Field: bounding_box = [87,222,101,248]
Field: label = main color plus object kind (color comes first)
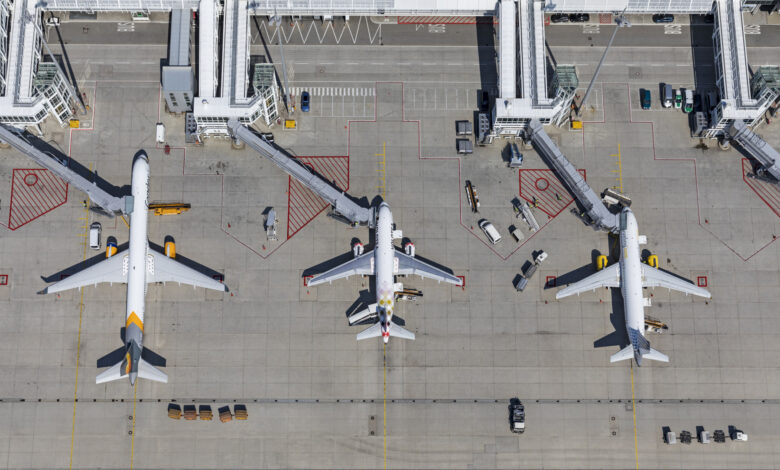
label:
white vehicle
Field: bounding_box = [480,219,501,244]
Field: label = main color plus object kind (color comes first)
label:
white vehicle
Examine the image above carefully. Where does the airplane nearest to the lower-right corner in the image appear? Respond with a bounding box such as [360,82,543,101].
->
[556,207,713,367]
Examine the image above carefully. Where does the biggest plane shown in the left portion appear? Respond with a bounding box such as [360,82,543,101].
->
[36,154,229,385]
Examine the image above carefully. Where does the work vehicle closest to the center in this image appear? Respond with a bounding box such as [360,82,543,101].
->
[395,291,424,305]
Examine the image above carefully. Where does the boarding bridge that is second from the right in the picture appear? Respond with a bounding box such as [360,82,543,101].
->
[522,120,628,235]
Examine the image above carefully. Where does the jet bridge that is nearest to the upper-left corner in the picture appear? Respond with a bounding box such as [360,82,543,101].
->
[0,129,136,226]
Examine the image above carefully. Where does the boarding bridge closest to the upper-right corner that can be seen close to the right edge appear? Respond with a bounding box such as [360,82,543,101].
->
[717,120,780,201]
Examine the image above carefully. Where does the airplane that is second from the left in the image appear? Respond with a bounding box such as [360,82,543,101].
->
[307,200,463,344]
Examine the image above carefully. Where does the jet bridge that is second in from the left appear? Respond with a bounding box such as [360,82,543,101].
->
[227,119,380,228]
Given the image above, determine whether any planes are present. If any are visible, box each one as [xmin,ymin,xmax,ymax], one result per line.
[556,207,713,367]
[36,154,229,385]
[307,200,463,344]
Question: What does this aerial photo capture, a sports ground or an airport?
airport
